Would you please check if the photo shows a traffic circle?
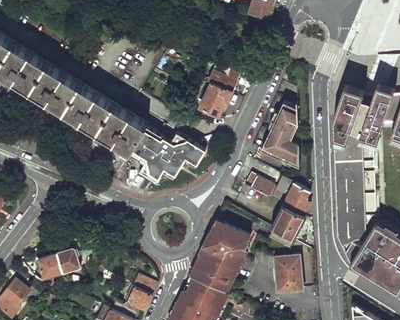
Yes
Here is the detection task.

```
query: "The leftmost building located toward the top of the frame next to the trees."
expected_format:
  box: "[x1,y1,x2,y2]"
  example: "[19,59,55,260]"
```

[0,36,148,162]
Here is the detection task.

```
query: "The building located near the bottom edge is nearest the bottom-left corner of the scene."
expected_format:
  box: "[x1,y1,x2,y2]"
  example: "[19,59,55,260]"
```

[0,288,21,320]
